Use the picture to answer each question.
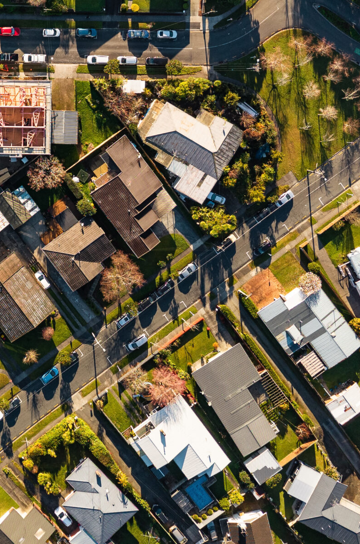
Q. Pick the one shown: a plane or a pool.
pool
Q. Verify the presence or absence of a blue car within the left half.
Yes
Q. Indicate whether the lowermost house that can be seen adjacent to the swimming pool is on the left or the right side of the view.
right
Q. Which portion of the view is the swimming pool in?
bottom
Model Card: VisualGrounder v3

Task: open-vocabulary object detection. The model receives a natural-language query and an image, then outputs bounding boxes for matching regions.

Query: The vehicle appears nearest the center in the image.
[178,263,195,279]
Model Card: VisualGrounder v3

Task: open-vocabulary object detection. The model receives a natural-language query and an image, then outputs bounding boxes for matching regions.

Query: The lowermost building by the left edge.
[0,503,56,544]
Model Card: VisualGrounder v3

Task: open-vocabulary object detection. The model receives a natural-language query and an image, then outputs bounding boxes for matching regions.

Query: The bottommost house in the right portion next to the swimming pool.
[219,506,273,544]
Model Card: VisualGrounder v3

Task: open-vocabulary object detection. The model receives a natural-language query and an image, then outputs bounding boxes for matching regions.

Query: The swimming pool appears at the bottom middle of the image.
[183,475,216,503]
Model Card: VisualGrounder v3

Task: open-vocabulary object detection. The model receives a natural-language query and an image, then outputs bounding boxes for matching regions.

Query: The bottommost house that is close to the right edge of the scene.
[285,461,360,544]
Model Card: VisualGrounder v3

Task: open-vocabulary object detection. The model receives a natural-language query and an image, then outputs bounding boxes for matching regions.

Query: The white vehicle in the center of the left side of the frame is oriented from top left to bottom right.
[34,271,49,289]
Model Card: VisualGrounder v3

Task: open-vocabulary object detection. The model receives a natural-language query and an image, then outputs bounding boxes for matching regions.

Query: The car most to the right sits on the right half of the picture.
[275,190,294,206]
